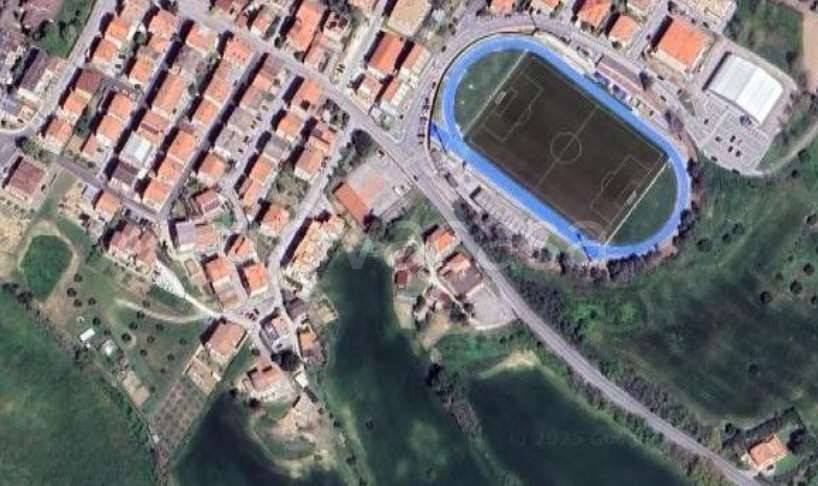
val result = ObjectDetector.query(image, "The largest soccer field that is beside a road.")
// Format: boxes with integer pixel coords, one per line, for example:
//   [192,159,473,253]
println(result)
[460,51,670,246]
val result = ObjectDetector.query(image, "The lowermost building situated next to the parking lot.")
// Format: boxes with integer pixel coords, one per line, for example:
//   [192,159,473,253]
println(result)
[705,56,784,124]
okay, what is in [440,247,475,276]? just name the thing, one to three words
house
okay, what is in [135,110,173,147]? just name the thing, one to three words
building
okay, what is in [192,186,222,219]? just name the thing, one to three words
house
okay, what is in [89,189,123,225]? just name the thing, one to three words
shed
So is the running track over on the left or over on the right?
right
